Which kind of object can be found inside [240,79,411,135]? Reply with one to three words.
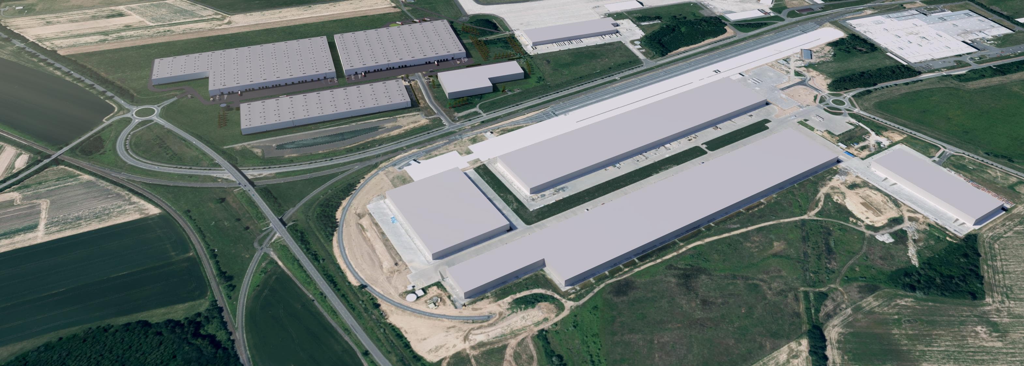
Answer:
building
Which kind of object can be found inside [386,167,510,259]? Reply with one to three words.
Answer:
building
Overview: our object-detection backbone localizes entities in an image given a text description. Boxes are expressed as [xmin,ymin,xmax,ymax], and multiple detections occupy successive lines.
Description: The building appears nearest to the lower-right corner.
[870,148,1004,226]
